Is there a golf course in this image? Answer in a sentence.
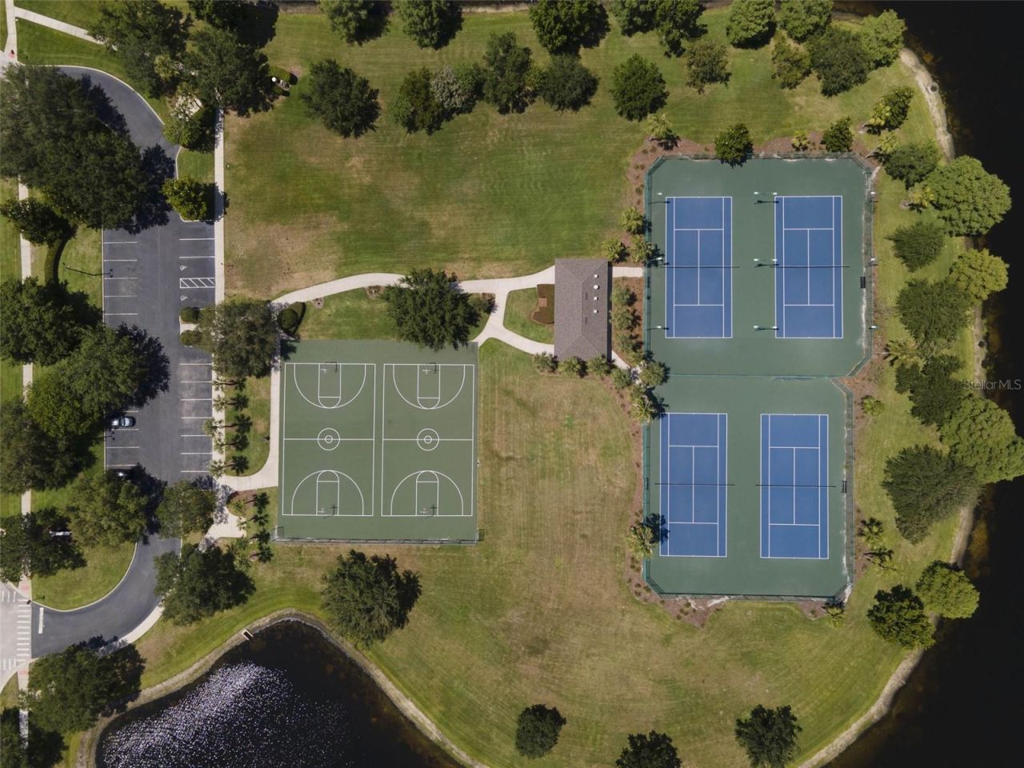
No, the picture doesn't show any golf course.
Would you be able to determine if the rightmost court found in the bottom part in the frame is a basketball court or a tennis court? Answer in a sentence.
The rightmost court found in the bottom part can be classified as a tennis court.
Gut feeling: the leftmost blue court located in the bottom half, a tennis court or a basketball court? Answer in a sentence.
The leftmost blue court located in the bottom half is a tennis court.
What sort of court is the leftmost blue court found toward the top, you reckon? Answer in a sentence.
The leftmost blue court found toward the top appears to be a tennis court.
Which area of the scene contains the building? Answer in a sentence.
The building is in the center part of the image.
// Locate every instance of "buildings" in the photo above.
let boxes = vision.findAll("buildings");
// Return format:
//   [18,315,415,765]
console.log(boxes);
[555,259,608,359]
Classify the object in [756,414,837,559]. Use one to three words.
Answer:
tennis court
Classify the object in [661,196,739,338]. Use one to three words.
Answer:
tennis court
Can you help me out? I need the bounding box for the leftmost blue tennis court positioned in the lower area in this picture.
[655,413,734,557]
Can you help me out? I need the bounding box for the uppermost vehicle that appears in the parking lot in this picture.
[109,416,136,428]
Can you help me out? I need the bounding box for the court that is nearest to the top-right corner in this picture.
[770,196,850,338]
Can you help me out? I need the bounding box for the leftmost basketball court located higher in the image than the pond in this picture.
[282,363,376,516]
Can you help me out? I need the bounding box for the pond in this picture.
[97,619,467,768]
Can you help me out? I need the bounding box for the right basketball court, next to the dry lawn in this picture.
[381,364,474,517]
